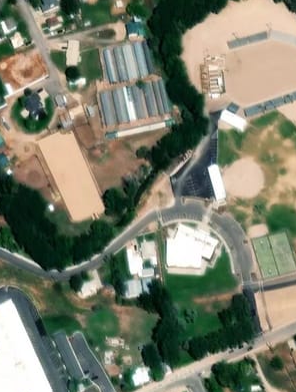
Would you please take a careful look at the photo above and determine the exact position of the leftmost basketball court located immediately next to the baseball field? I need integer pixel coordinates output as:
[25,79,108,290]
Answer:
[252,235,279,278]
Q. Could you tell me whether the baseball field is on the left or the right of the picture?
right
